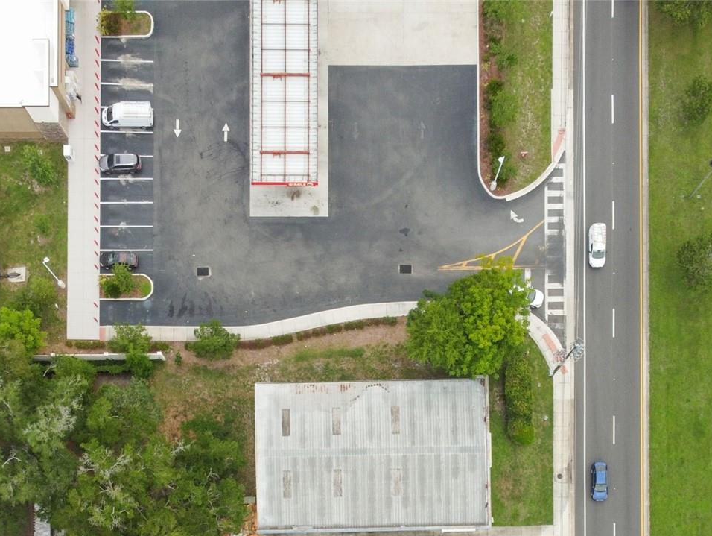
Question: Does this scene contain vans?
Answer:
Yes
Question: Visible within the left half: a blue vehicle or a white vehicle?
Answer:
white vehicle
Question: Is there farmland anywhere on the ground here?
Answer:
No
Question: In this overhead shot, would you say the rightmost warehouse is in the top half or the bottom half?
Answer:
bottom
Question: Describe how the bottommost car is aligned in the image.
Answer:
from top to bottom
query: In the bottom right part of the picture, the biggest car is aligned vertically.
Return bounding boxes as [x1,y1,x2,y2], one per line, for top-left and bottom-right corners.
[589,461,608,502]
